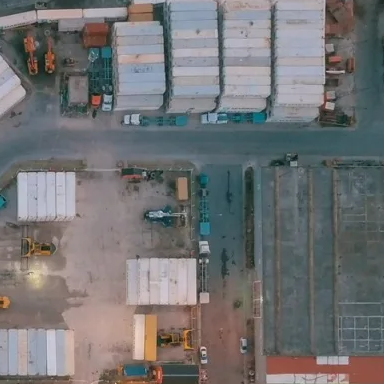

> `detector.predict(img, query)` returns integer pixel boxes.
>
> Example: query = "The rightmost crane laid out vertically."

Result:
[43,28,55,79]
